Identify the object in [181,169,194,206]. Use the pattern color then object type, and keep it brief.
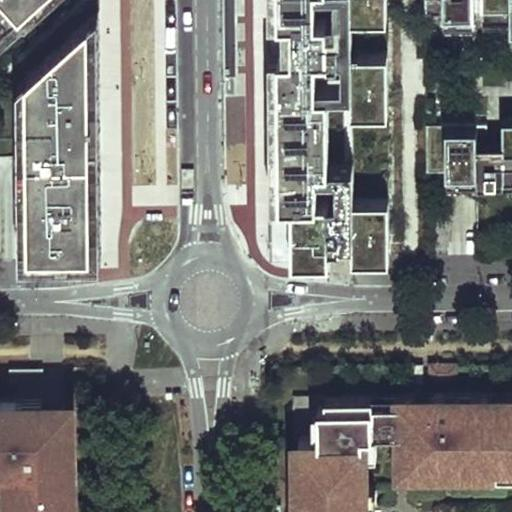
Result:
white vehicle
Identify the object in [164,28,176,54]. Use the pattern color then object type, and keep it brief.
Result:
white vehicle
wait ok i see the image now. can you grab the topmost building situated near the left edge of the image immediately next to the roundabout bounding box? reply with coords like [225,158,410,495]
[15,32,101,280]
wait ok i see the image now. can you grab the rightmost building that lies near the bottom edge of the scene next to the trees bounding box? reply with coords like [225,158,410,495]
[392,405,512,490]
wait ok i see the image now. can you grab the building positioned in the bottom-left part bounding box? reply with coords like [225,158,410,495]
[0,400,77,512]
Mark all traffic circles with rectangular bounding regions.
[142,226,281,364]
